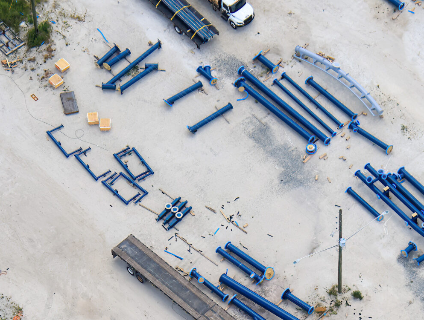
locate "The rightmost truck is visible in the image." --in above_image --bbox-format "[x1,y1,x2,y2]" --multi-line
[189,0,254,30]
